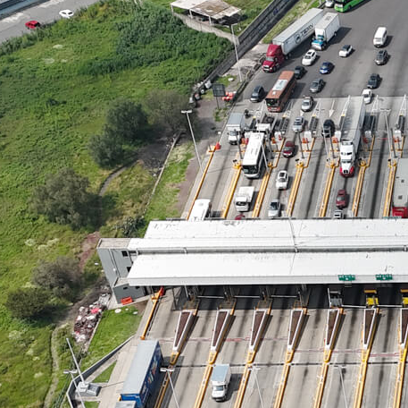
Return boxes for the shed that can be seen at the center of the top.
[167,0,240,28]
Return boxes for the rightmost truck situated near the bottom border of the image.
[209,362,234,402]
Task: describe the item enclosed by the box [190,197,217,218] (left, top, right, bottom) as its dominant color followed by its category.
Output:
white bus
